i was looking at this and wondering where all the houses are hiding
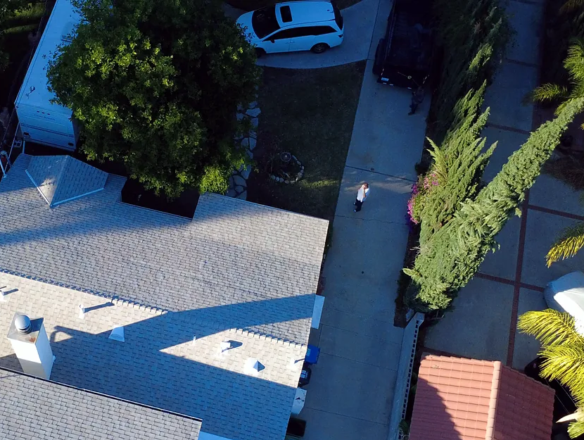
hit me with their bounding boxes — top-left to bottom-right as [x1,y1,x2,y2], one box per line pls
[406,354,558,440]
[0,151,329,440]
